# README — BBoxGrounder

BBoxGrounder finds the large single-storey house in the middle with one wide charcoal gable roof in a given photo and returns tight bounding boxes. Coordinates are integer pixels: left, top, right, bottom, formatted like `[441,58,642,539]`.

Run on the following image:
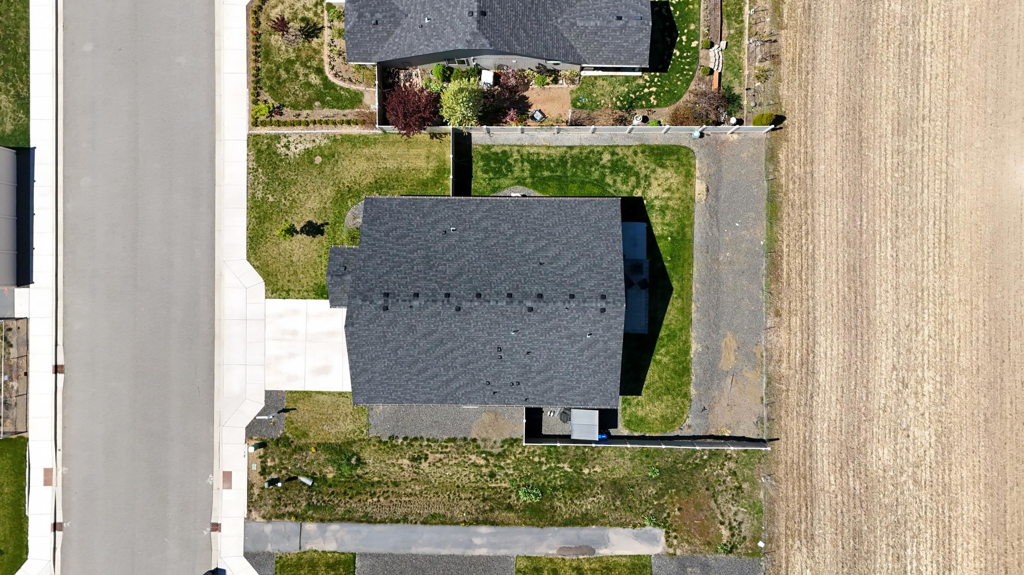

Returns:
[326,194,628,410]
